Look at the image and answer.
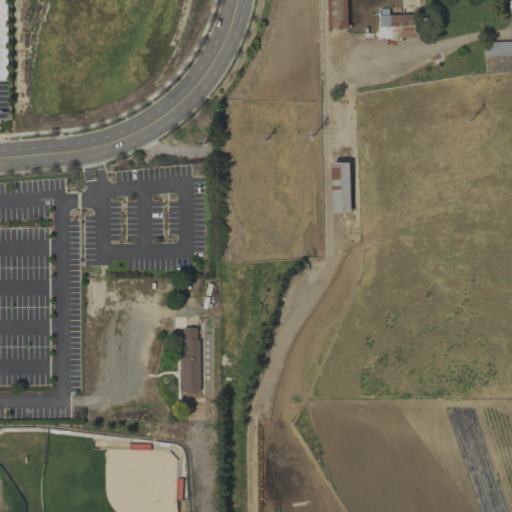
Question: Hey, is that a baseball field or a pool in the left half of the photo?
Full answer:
There is a baseball field in the left half of the photo.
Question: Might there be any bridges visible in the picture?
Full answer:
No, no bridge is visible in the scene.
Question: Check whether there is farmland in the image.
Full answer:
Yes, the picture does contain farmland.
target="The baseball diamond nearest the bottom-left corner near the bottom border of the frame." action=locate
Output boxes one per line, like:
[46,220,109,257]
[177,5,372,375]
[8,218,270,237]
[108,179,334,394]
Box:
[0,432,46,512]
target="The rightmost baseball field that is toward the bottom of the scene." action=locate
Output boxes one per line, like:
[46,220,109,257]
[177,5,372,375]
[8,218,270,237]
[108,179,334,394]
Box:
[44,432,186,512]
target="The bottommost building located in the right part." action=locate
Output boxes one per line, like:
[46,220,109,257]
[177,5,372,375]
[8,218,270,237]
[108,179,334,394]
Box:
[332,162,352,213]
